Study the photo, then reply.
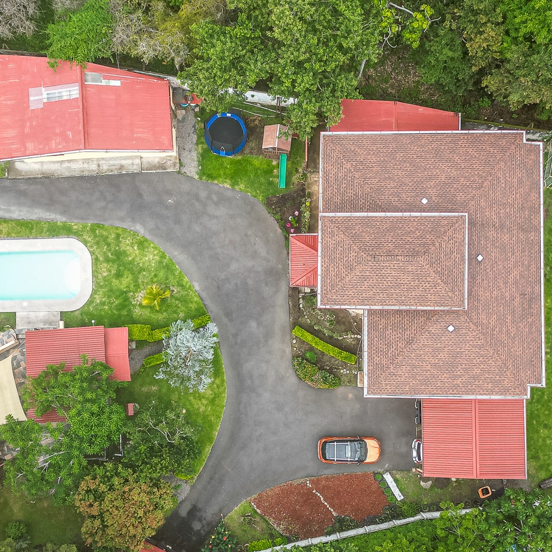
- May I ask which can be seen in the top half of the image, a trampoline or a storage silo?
trampoline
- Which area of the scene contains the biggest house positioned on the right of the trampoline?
right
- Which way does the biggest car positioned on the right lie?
horizontally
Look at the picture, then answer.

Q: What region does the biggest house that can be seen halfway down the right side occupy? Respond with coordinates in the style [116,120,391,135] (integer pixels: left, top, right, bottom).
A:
[316,129,548,400]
